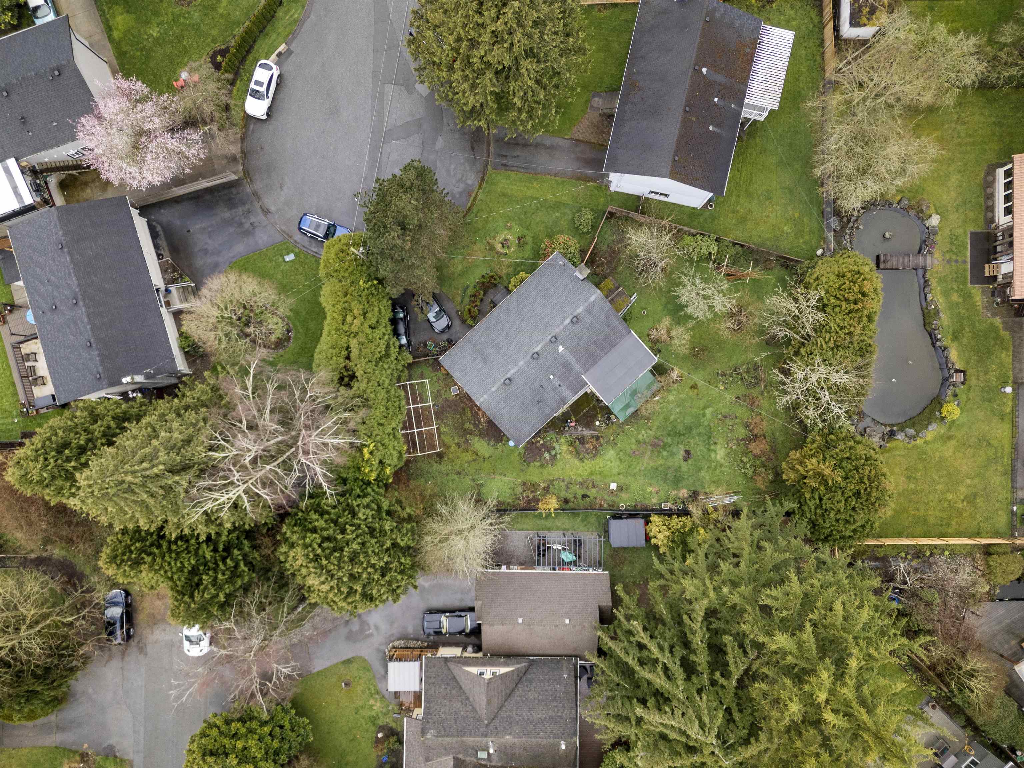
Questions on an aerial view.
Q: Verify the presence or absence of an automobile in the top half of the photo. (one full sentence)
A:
Yes, there is an automobile in the top half of the photo.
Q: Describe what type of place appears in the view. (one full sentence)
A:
The picture captures a residential area.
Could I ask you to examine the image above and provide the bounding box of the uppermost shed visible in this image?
[836,0,888,44]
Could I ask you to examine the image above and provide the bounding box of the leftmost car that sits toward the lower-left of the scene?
[102,585,138,645]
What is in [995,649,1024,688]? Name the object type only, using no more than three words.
shed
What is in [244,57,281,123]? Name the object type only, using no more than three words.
car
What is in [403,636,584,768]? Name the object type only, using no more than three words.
house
